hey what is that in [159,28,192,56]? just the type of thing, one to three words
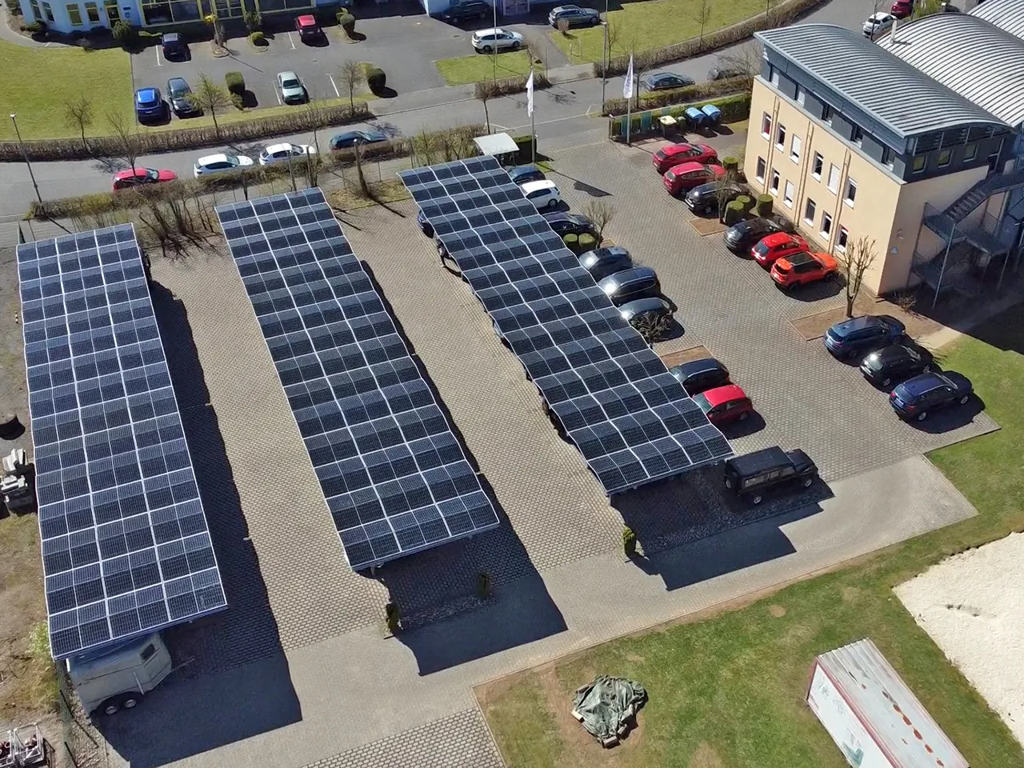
car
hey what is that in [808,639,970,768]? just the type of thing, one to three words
shipping container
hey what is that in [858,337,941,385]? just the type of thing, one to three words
car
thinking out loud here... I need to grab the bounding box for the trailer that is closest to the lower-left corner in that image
[67,632,195,710]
